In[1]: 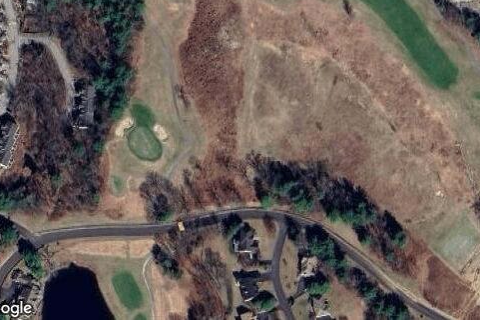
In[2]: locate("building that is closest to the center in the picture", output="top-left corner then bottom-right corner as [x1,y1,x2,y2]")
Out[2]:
[236,223,260,254]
